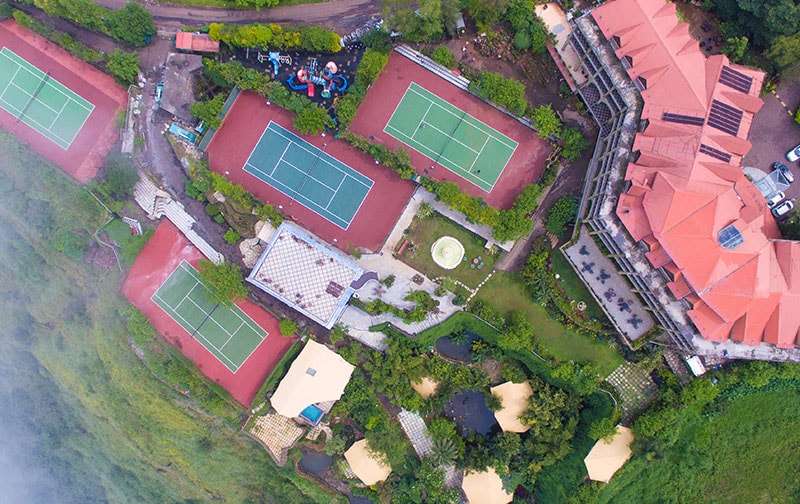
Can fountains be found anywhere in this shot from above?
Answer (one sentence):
Yes, I can see a fountain in this picture.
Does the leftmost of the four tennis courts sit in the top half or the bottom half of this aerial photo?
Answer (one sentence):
The top half of the photo is where the leftmost of the four tennis courts is.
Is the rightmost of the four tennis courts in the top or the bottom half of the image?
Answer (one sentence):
It is in the top half that the rightmost of the four tennis courts appears.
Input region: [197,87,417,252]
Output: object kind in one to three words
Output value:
tennis court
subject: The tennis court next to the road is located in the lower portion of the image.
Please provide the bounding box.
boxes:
[123,221,305,407]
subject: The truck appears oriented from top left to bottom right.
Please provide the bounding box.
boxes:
[771,159,799,183]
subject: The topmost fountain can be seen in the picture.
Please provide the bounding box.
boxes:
[430,235,465,270]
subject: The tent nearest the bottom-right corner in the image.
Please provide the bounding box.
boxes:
[584,424,633,482]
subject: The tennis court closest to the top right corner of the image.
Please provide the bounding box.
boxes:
[346,46,557,211]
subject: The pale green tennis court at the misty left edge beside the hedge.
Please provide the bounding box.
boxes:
[0,18,127,183]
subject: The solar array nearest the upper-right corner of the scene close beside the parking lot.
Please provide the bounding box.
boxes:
[719,66,752,93]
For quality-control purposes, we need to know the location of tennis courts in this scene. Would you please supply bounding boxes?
[197,87,417,252]
[123,221,305,407]
[346,46,557,211]
[0,18,127,183]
